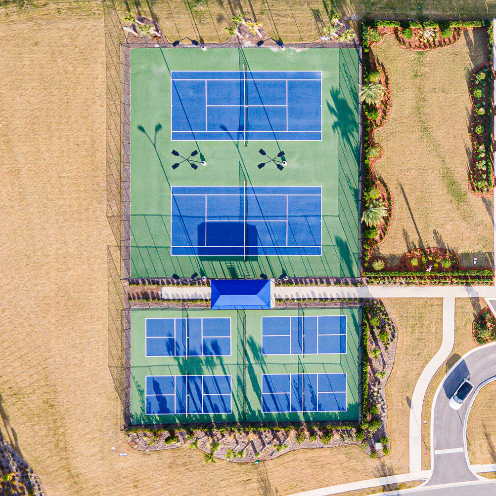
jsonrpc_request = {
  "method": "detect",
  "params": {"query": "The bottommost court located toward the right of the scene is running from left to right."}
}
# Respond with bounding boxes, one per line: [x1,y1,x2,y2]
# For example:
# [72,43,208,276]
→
[245,366,361,424]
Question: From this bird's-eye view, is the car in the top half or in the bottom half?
bottom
